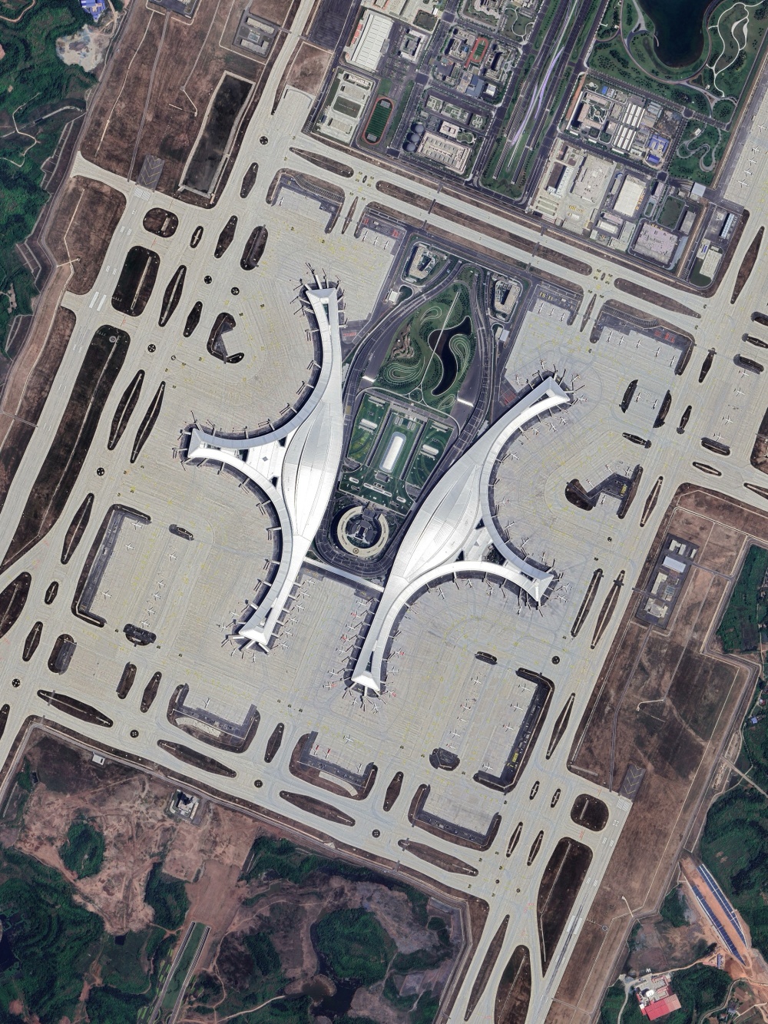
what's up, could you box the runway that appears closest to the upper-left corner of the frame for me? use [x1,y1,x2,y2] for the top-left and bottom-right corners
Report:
[0,184,154,566]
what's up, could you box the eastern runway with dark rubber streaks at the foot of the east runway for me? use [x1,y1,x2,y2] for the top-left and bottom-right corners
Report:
[527,795,631,1024]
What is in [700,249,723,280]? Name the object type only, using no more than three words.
hangar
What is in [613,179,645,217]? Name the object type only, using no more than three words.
building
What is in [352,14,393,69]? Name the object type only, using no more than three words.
hangar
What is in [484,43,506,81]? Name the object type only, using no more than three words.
building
